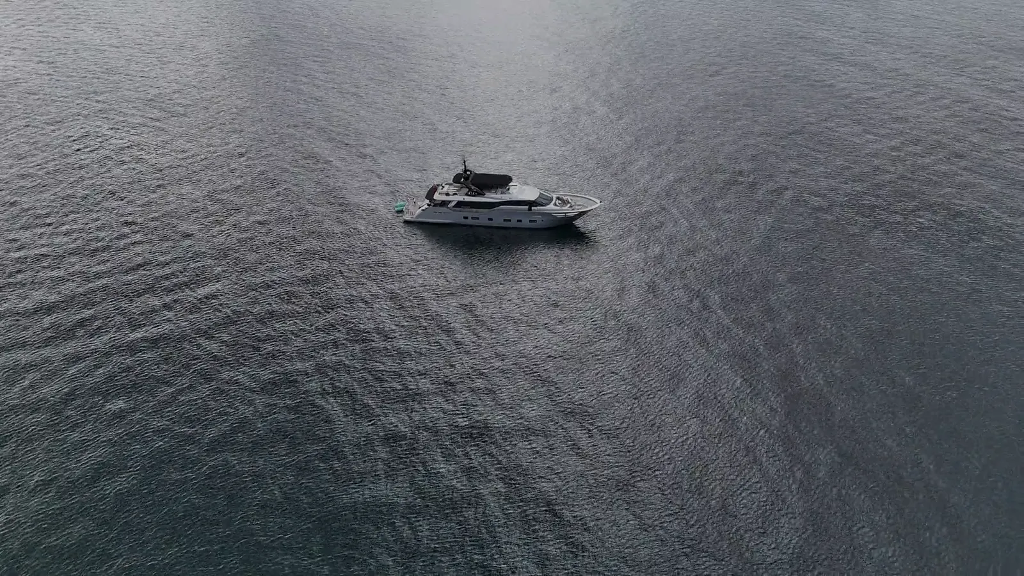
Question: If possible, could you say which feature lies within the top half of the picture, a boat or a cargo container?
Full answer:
Looking within the top half of the picture, you will find a boat.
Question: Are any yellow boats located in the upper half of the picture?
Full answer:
No, I see no yellow boat in the upper half of the picture.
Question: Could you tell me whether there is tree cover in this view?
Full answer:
No, the picture contains no tree cover.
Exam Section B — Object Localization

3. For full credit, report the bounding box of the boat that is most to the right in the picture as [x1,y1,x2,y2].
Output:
[404,157,603,228]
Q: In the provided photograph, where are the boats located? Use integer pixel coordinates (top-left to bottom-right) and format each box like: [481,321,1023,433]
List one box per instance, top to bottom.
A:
[404,157,603,228]
[393,203,408,213]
